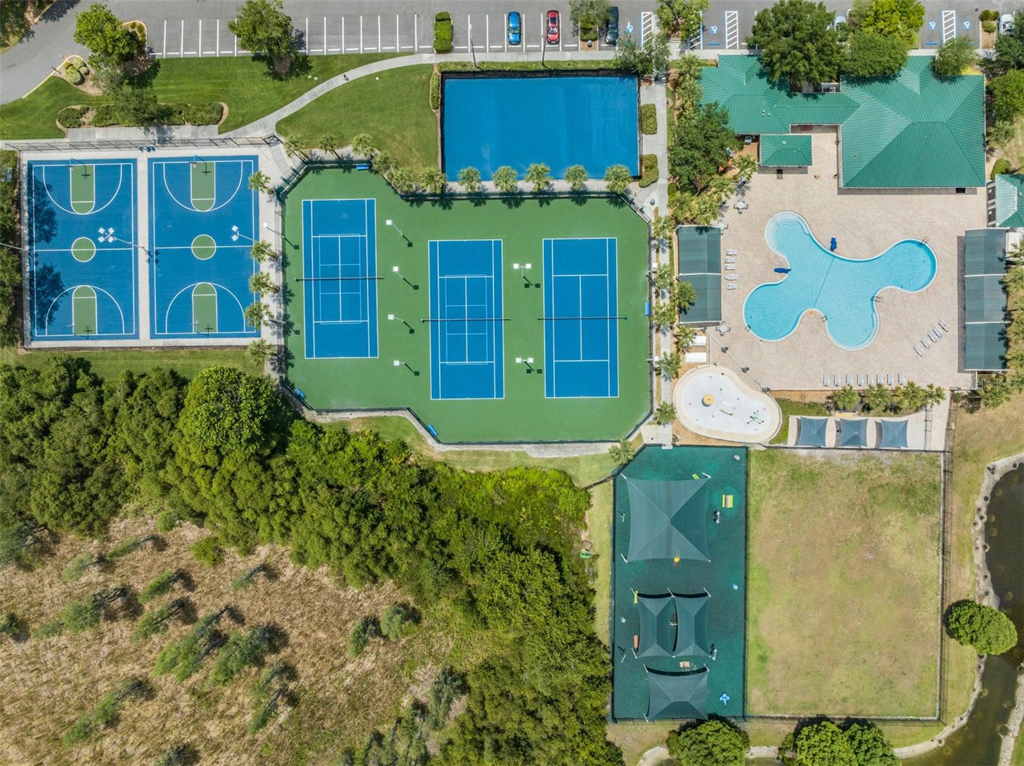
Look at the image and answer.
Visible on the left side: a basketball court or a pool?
basketball court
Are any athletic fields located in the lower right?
Yes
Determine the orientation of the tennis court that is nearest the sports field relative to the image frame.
up and down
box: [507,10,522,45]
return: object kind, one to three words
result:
car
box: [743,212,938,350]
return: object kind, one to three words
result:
swimming pool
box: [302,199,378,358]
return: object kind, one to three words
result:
tennis court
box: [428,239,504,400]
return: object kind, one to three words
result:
tennis court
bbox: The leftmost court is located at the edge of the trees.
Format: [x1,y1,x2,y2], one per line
[27,158,139,341]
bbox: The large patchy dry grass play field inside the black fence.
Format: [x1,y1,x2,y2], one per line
[750,450,943,717]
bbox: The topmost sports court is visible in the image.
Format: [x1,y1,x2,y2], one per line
[440,65,643,182]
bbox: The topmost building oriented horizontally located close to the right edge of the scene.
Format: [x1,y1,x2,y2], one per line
[700,54,986,190]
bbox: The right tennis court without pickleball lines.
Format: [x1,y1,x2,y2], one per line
[543,238,619,398]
